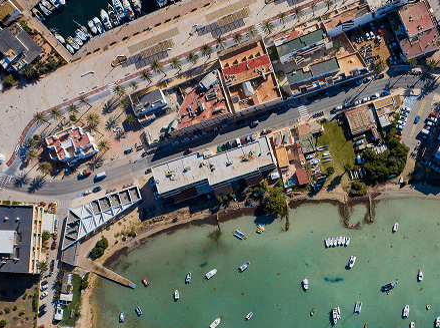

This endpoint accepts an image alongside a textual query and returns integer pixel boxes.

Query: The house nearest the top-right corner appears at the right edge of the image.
[395,0,436,40]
